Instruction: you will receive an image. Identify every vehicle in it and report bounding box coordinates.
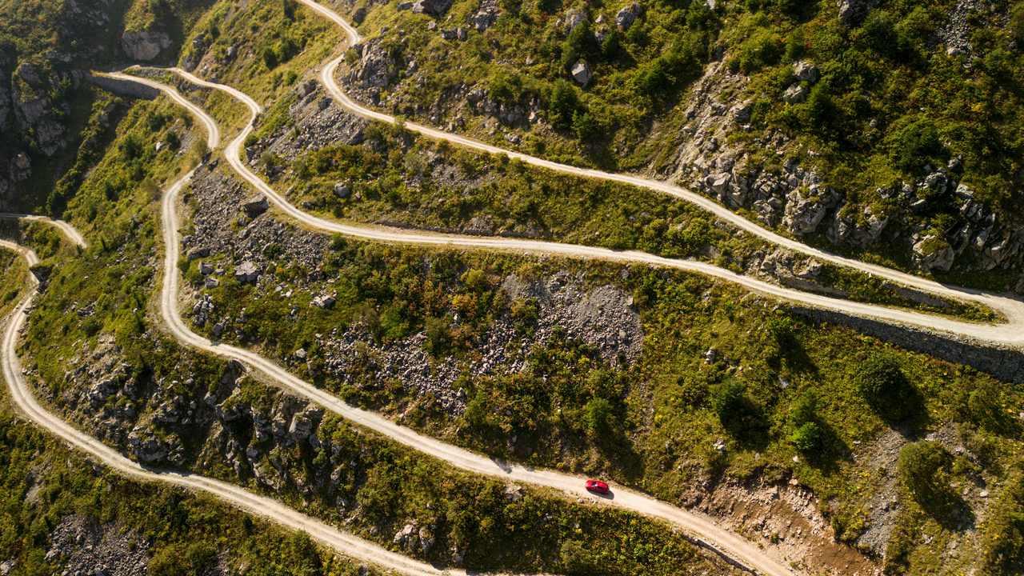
[587,479,611,494]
